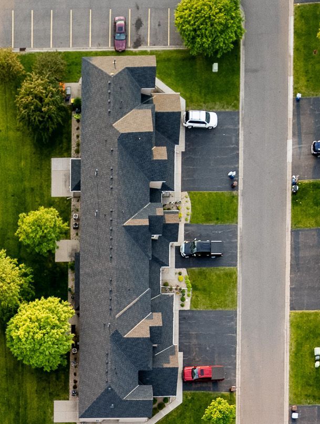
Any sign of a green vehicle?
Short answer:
No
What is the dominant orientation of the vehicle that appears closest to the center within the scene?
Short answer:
horizontally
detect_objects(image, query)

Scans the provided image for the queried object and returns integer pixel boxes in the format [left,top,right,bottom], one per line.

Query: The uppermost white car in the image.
[183,110,217,130]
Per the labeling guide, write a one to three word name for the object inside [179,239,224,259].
vehicle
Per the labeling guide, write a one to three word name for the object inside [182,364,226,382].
vehicle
